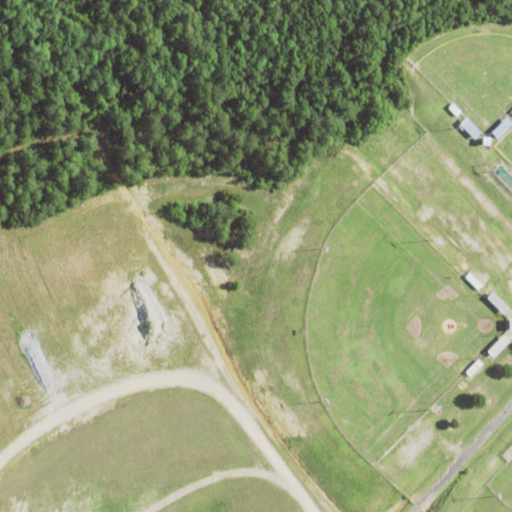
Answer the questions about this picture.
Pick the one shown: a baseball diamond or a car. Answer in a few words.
baseball diamond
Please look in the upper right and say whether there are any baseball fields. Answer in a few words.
Yes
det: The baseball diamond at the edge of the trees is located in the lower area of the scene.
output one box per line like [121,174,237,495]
[306,184,503,466]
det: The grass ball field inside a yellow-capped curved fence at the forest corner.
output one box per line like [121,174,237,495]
[416,34,512,135]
